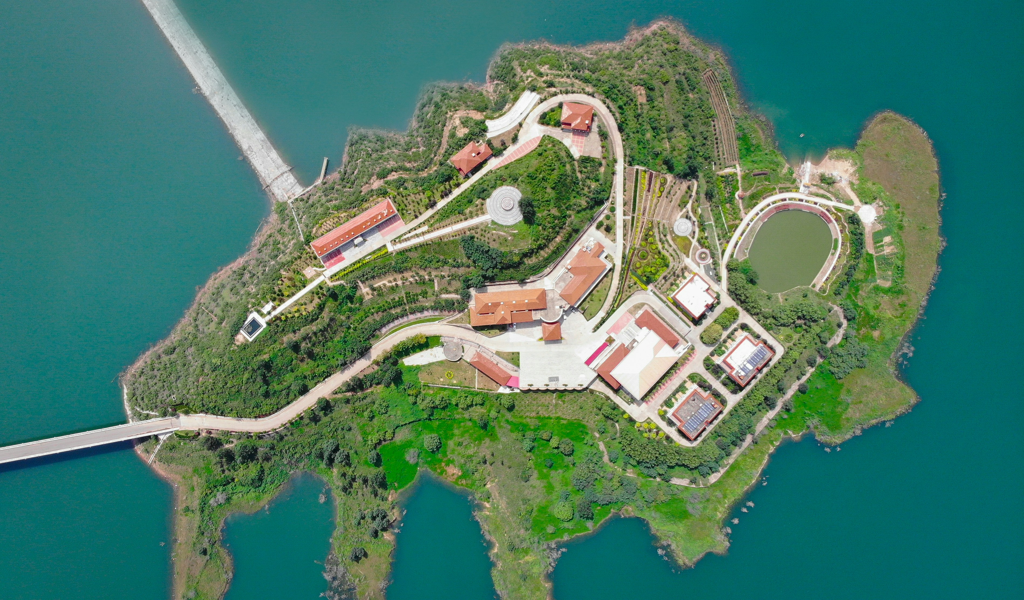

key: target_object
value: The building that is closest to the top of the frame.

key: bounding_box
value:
[561,102,593,132]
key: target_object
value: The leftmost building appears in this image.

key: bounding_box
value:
[310,198,397,257]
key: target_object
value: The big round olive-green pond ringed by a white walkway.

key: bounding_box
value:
[747,208,834,294]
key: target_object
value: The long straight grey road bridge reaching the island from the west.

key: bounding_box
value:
[0,416,179,463]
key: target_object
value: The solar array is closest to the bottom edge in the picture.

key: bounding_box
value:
[683,403,714,434]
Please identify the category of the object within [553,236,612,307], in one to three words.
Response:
building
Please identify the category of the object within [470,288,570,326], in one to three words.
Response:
building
